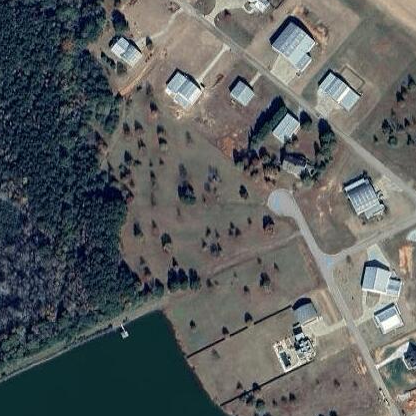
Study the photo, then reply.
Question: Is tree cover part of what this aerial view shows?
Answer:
Yes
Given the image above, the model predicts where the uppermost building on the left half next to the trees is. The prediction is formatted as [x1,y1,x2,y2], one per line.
[111,39,142,67]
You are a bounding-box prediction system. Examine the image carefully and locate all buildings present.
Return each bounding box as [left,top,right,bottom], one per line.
[111,39,142,67]
[282,155,313,175]
[272,114,299,143]
[401,345,416,369]
[295,303,316,323]
[362,268,401,296]
[345,180,384,218]
[318,73,360,112]
[374,304,404,333]
[167,73,202,108]
[292,323,313,356]
[271,23,314,71]
[230,83,254,105]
